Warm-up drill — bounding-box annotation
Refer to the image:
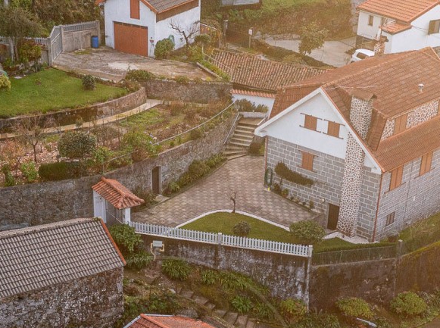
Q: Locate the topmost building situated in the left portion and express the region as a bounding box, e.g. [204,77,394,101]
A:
[96,0,205,63]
